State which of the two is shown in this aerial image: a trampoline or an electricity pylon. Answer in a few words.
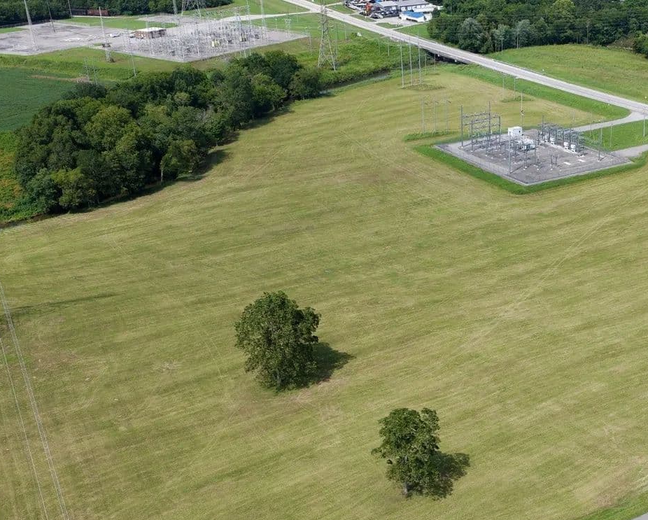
electricity pylon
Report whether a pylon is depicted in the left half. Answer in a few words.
Yes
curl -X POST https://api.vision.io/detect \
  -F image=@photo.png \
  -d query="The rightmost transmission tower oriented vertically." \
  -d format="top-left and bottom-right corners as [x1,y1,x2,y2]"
[308,0,338,68]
